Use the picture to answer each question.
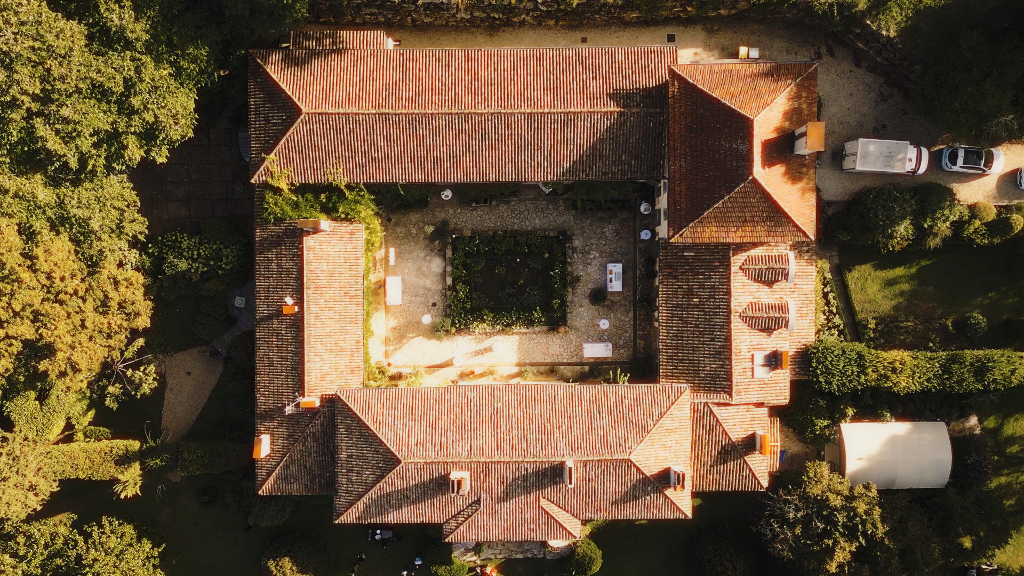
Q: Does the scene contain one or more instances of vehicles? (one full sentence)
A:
Yes, a vehicle appears in the view.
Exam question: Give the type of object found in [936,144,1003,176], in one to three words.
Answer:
car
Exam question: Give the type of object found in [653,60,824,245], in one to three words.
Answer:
house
